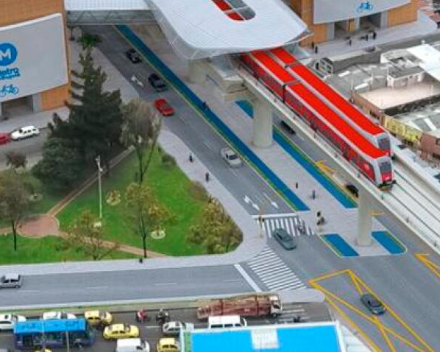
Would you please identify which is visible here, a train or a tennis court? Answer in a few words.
train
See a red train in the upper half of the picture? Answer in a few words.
Yes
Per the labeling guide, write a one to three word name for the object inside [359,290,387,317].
car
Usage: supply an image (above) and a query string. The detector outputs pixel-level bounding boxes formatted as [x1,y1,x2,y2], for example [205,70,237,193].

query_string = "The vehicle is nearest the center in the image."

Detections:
[221,148,242,168]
